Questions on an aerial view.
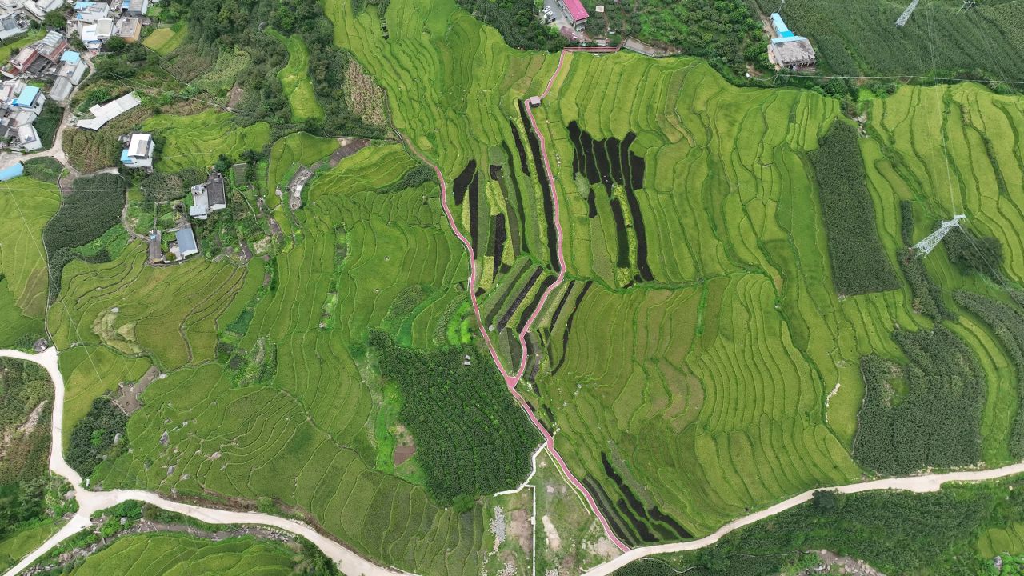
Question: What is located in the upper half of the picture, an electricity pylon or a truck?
electricity pylon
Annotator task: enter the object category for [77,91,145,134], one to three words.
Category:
shed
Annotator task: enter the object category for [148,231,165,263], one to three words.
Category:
barn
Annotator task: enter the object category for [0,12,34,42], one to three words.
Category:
house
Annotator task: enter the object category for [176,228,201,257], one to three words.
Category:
barn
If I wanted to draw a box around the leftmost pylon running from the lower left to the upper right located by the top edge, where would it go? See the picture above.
[894,0,920,29]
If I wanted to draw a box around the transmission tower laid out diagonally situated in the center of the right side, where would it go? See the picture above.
[911,217,969,262]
